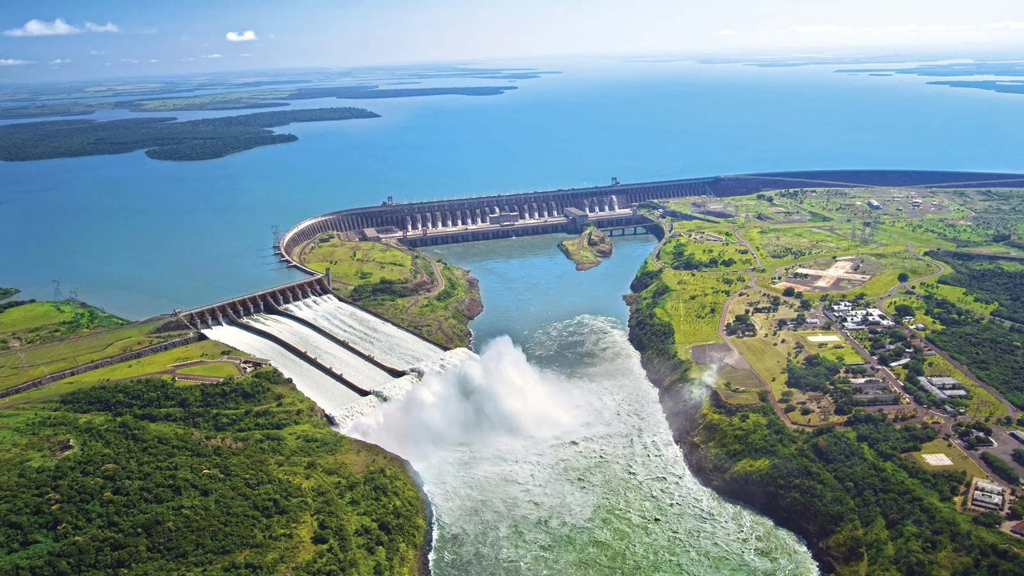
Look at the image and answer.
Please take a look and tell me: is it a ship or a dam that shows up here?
dam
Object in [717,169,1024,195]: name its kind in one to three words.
dam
